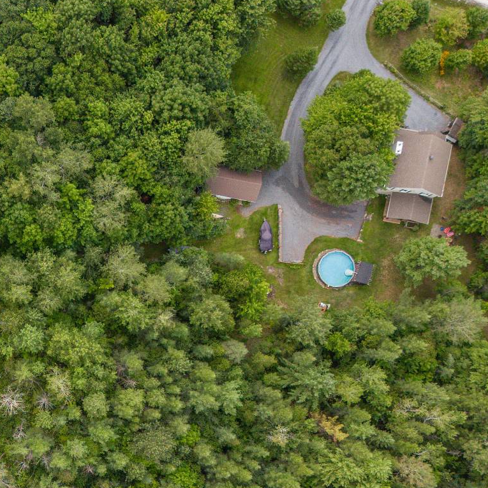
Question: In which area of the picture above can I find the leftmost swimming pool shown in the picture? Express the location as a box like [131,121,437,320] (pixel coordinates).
[316,250,355,287]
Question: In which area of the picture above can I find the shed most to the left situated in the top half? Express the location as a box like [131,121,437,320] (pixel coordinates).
[206,165,263,203]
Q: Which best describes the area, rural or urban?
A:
rural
